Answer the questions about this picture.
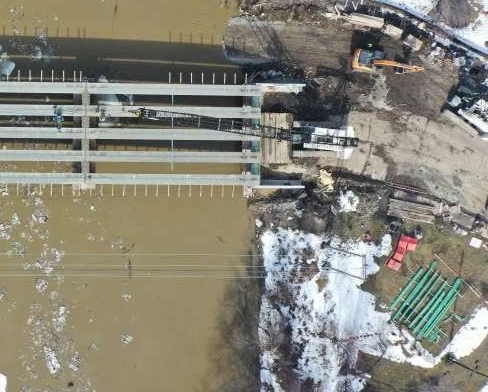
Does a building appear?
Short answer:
No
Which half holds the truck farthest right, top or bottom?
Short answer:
top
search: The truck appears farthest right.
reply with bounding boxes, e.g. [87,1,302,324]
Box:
[449,89,488,138]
